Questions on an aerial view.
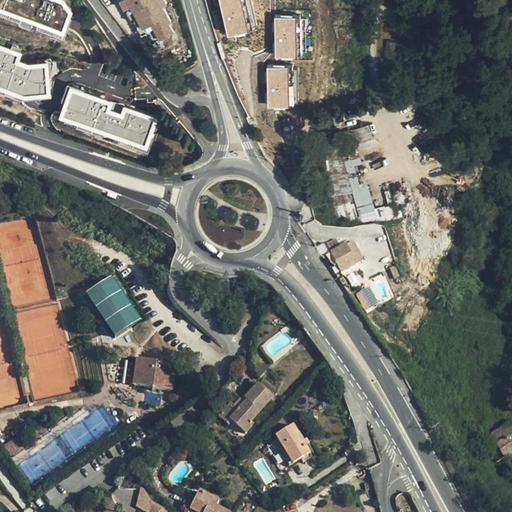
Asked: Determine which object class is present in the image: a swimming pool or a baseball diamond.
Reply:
swimming pool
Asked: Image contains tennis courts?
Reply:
Yes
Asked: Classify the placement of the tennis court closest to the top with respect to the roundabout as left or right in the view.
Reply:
on the left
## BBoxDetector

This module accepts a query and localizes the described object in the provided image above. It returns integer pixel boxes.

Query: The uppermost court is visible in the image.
[0,219,56,308]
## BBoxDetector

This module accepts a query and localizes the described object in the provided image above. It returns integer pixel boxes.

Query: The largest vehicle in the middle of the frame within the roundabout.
[203,241,224,258]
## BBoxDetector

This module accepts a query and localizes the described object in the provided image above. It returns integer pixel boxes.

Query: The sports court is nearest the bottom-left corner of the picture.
[19,434,73,482]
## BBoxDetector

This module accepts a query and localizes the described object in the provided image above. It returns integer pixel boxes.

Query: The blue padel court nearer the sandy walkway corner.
[58,404,119,453]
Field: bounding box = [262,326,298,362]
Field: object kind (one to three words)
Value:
swimming pool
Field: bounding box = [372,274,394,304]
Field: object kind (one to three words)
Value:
swimming pool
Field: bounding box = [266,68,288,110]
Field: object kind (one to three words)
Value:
house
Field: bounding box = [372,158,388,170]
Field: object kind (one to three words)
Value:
vehicle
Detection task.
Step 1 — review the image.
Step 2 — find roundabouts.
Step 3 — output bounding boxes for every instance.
[179,157,300,278]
